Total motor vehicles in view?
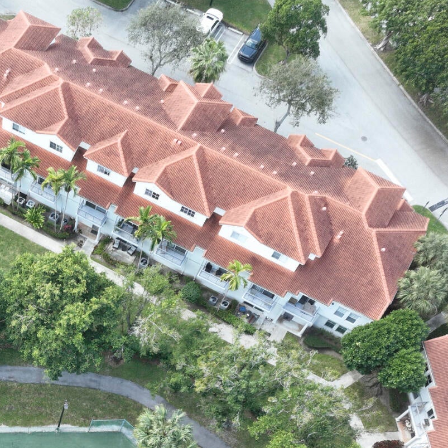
2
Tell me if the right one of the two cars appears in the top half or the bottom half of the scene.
top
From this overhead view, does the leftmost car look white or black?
white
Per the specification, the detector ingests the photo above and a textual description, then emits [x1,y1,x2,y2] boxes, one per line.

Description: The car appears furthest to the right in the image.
[241,24,268,60]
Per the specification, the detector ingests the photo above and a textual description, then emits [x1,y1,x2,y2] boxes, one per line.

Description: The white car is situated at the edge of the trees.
[198,4,224,36]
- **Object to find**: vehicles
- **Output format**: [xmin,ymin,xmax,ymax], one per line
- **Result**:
[241,24,268,60]
[198,4,224,36]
